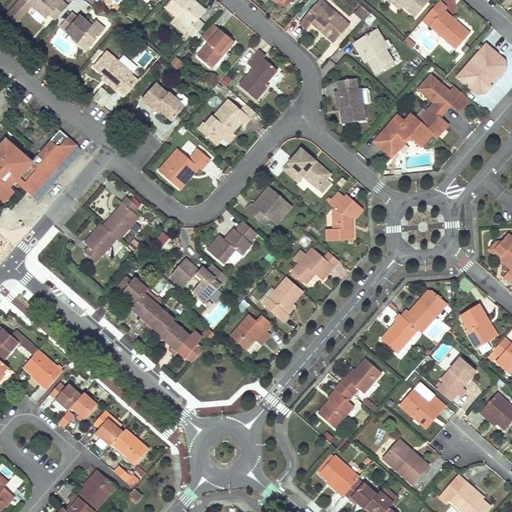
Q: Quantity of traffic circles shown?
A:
2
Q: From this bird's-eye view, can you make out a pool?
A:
Yes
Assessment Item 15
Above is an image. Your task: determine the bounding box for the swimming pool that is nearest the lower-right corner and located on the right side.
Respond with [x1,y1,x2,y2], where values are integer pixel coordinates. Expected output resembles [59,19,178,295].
[432,342,453,361]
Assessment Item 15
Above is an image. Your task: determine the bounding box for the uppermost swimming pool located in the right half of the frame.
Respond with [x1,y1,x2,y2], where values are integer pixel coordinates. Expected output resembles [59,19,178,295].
[420,31,436,50]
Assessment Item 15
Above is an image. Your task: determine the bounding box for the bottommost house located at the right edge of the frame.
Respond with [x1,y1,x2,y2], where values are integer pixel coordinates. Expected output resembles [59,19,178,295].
[438,476,495,512]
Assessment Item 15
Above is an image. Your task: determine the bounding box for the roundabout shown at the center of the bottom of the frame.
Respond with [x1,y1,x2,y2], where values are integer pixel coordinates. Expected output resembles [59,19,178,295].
[172,402,266,505]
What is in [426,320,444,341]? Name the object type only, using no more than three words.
swimming pool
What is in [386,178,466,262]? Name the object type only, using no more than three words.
roundabout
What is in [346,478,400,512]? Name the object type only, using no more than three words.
house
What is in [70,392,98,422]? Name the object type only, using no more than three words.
house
